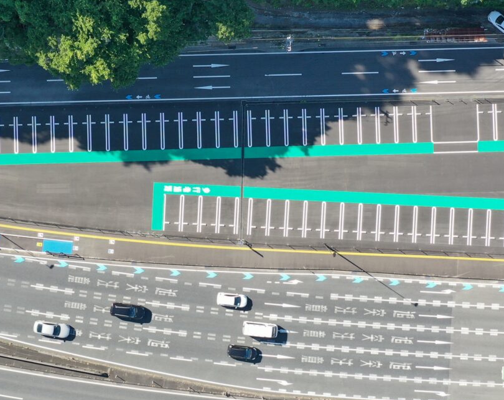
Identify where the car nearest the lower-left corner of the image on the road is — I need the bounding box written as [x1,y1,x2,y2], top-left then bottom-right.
[34,320,70,338]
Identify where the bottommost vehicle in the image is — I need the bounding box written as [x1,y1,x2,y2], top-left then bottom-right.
[229,344,257,362]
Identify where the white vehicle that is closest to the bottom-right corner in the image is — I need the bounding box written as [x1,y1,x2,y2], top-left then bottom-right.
[244,321,276,339]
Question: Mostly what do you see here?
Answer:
paved ground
